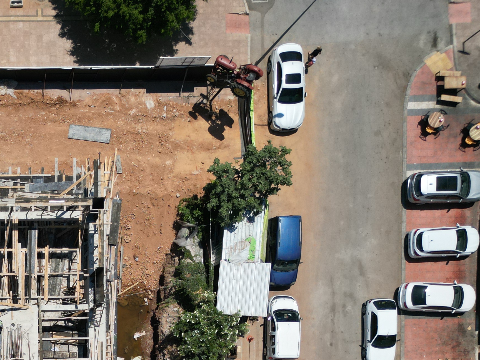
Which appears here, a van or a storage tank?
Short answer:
van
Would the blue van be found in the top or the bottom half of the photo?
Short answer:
bottom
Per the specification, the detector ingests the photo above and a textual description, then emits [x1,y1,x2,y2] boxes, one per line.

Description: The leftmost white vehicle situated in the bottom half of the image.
[262,295,307,360]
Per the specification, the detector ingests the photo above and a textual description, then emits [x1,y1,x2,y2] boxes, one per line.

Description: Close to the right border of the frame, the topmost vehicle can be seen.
[401,165,480,208]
